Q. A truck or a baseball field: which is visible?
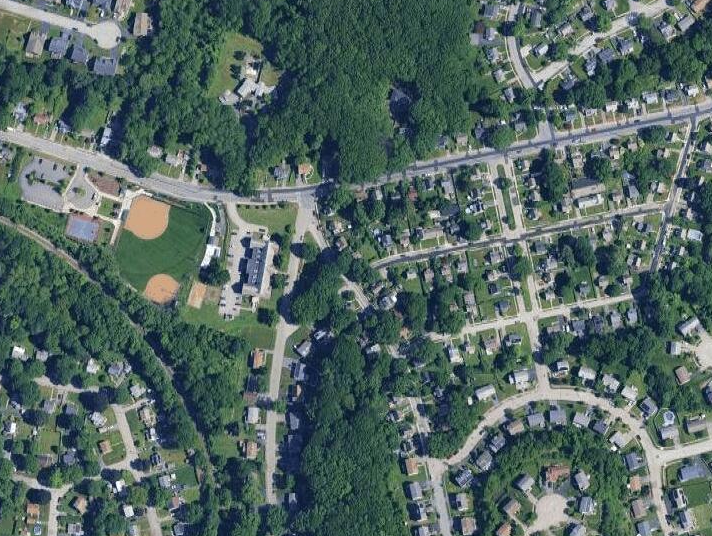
baseball field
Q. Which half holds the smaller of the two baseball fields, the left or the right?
left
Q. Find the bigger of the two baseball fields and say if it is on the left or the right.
left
